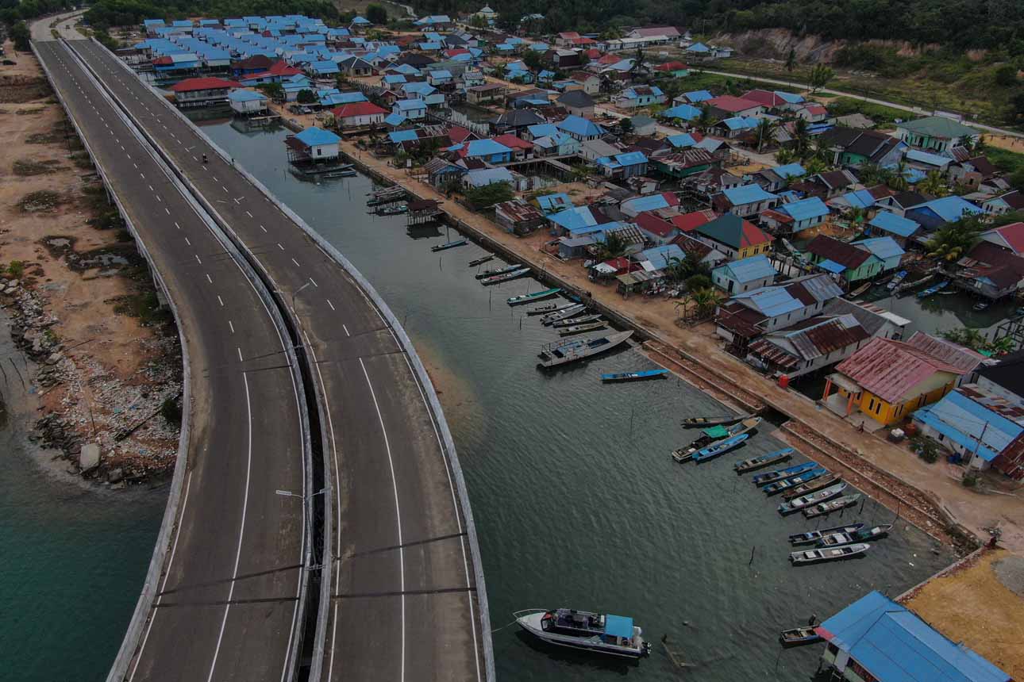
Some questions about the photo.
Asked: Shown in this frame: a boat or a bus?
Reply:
boat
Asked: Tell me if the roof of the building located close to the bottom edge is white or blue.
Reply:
blue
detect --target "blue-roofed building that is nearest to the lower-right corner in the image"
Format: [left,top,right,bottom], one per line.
[798,580,1012,682]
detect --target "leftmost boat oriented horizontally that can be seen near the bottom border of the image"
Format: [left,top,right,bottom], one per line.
[496,607,651,670]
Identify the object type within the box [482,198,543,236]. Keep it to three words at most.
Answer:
shed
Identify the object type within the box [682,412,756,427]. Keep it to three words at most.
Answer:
boat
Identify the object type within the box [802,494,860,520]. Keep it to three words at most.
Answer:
boat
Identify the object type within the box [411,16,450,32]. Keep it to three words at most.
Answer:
house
